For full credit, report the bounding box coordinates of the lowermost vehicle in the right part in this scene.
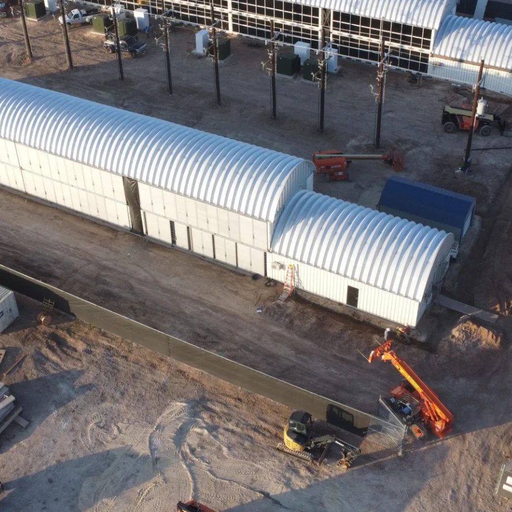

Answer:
[279,407,365,473]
